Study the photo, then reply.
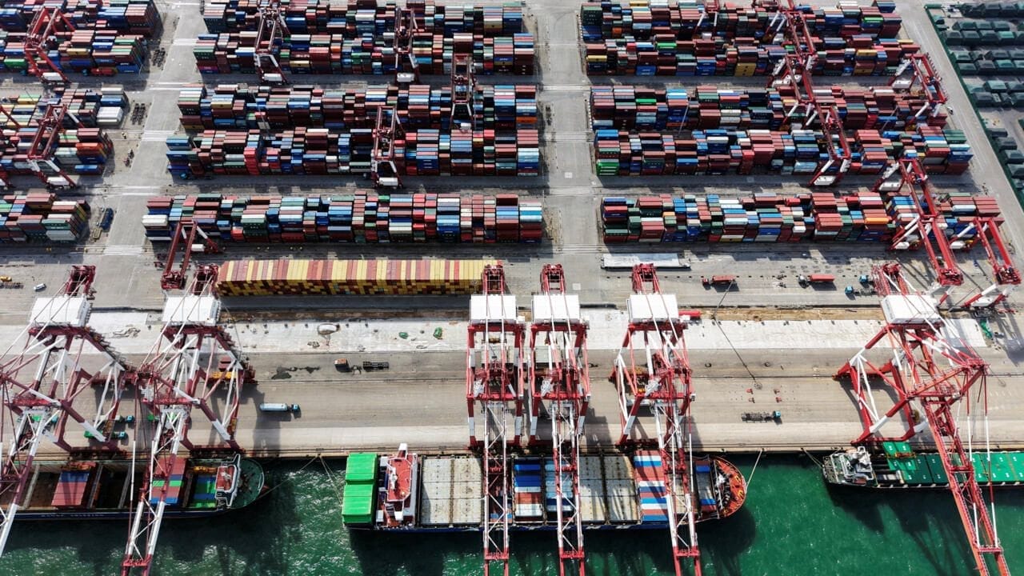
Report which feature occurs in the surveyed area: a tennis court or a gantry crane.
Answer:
gantry crane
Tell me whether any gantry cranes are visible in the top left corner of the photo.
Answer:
Yes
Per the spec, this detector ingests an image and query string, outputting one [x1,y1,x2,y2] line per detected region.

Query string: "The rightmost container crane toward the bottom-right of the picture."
[826,263,1007,576]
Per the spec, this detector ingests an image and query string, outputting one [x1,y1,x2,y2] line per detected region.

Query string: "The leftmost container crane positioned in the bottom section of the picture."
[0,264,139,538]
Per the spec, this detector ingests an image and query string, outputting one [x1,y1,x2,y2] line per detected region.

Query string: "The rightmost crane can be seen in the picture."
[946,222,1021,308]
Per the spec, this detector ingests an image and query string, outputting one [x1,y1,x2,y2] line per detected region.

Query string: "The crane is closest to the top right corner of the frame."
[885,55,950,131]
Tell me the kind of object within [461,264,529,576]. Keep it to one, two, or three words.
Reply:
container crane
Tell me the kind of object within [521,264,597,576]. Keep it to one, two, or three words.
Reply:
container crane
